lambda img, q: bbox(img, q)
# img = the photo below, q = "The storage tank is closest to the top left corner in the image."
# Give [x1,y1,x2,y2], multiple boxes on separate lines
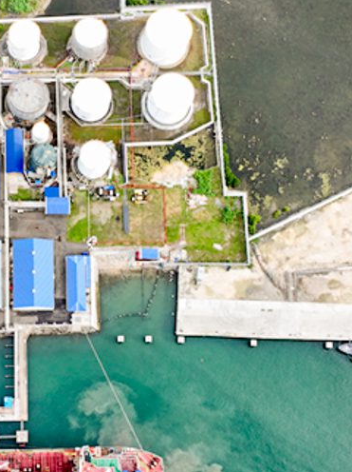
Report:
[0,21,48,69]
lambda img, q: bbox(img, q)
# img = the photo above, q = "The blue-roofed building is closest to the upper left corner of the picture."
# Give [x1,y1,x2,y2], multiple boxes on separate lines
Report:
[5,128,23,177]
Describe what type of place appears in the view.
industrial area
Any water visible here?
Yes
